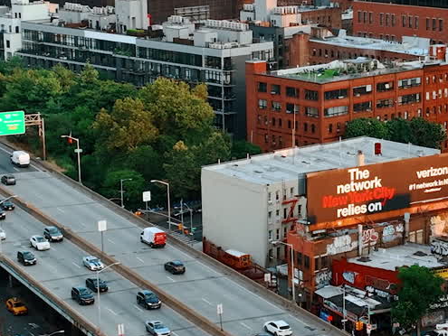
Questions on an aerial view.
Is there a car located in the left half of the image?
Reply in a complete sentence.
Yes, a car shows up in the left half of the image.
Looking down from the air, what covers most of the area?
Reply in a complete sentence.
The largest share of the image is taken up by buildings.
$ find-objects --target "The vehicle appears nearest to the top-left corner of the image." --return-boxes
[9,147,28,164]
